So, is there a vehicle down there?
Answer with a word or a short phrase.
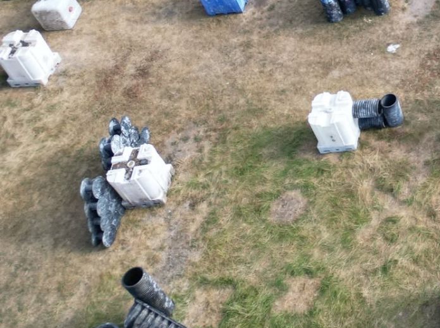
No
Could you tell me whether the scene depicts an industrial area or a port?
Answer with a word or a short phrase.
industrial area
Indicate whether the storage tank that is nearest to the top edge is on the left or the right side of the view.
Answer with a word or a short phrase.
left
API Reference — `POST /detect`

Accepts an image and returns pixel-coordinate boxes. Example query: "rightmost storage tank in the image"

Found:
[312,97,359,154]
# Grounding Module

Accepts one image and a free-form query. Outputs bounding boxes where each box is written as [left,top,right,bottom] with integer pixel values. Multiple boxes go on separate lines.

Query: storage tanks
[114,150,173,208]
[0,37,57,86]
[312,97,359,154]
